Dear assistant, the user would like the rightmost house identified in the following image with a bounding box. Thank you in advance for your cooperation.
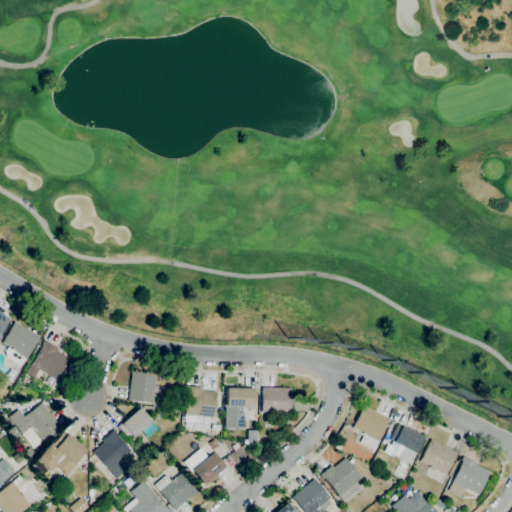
[453,456,492,499]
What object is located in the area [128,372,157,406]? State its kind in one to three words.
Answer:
house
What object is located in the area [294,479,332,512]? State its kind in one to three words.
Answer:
house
